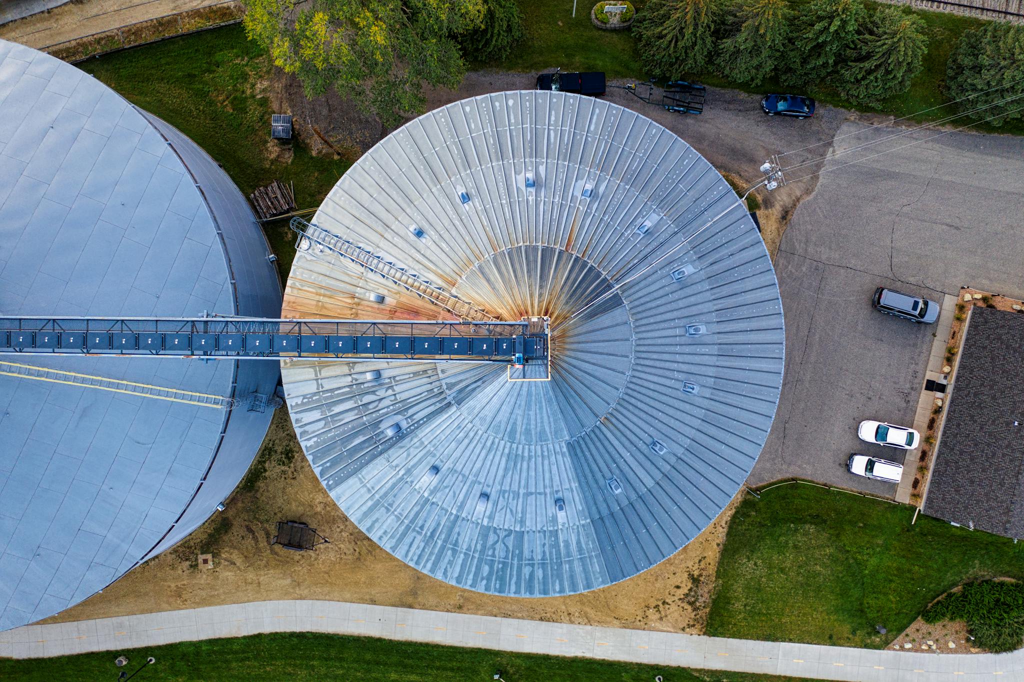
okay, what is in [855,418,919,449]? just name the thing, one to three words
car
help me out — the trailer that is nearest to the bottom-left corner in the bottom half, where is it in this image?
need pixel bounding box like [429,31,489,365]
[272,518,330,552]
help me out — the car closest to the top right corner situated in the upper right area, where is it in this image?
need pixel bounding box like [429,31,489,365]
[759,91,816,121]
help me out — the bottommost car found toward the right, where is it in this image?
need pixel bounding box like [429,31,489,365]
[844,451,906,484]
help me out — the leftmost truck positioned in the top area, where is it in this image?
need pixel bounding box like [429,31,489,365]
[536,61,607,98]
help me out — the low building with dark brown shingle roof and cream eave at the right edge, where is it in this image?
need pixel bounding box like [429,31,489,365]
[912,305,1024,536]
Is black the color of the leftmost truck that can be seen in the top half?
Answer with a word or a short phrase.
Yes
